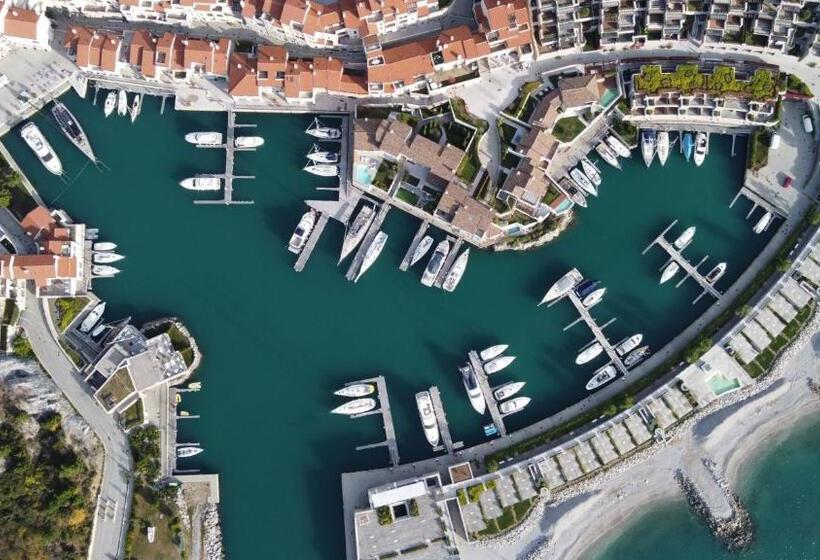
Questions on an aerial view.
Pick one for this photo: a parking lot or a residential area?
residential area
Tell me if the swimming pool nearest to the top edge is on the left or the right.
right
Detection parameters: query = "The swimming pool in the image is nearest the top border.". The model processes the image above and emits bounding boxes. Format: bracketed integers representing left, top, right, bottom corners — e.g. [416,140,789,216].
[597,74,620,107]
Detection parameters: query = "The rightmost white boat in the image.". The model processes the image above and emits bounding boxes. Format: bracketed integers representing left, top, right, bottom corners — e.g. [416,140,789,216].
[752,213,771,236]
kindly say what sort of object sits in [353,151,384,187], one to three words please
swimming pool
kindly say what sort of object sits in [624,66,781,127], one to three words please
building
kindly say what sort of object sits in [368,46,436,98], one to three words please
house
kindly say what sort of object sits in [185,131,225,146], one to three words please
boat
